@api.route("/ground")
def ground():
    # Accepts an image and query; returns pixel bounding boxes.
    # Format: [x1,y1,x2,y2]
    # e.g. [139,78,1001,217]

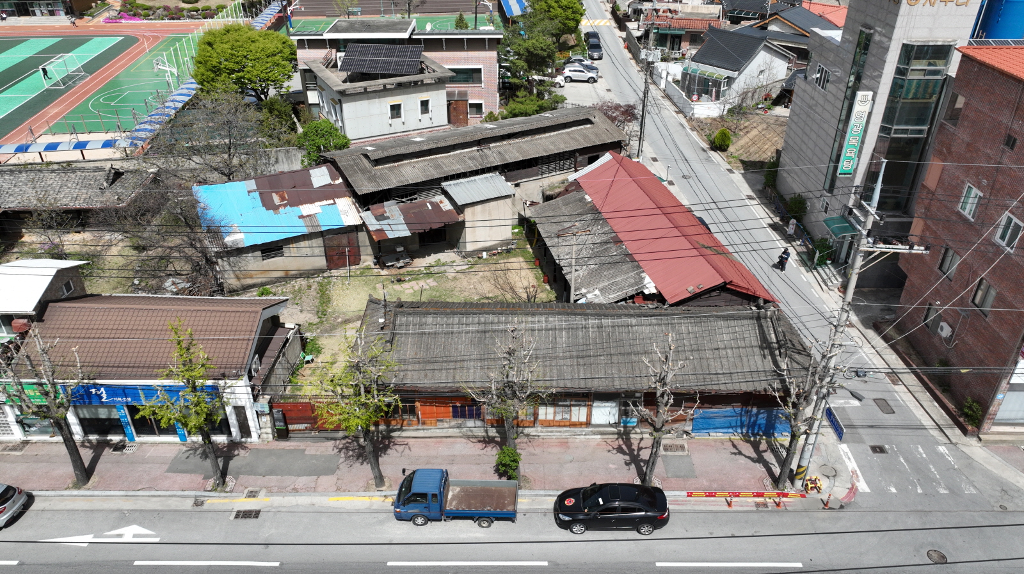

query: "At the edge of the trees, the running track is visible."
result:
[0,30,167,165]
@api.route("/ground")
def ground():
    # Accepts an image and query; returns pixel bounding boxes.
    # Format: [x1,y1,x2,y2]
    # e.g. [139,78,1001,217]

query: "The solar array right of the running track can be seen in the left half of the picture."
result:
[340,45,423,90]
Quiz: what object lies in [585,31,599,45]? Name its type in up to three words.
car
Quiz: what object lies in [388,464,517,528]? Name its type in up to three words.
truck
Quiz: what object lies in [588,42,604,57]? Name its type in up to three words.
car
